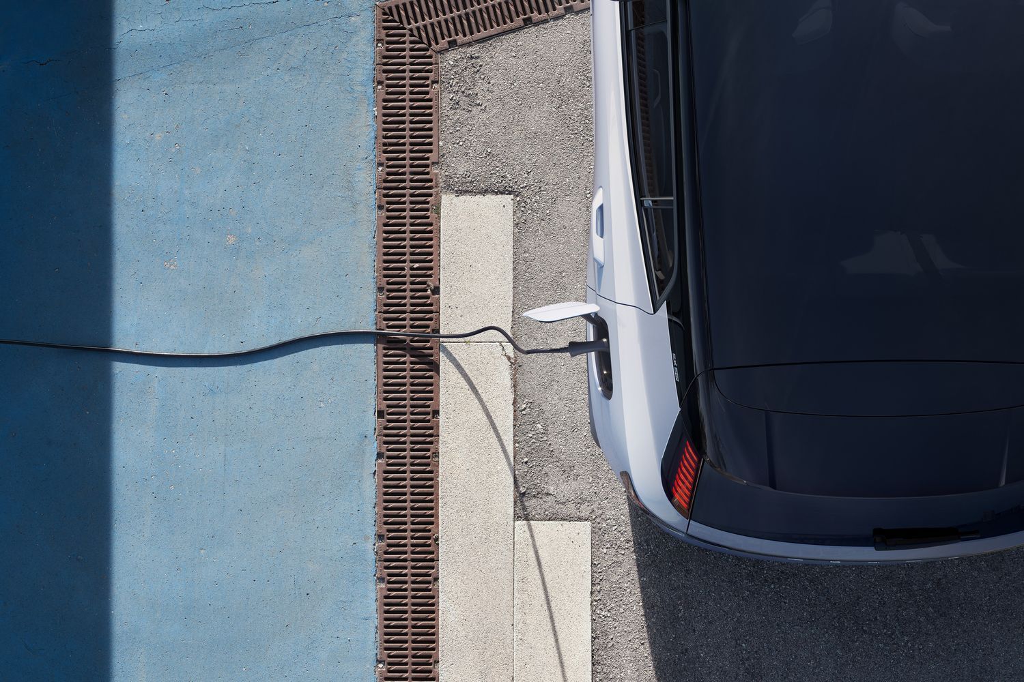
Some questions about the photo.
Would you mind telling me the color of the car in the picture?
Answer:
black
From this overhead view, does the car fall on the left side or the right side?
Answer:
right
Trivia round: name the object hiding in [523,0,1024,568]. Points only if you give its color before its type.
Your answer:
black car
